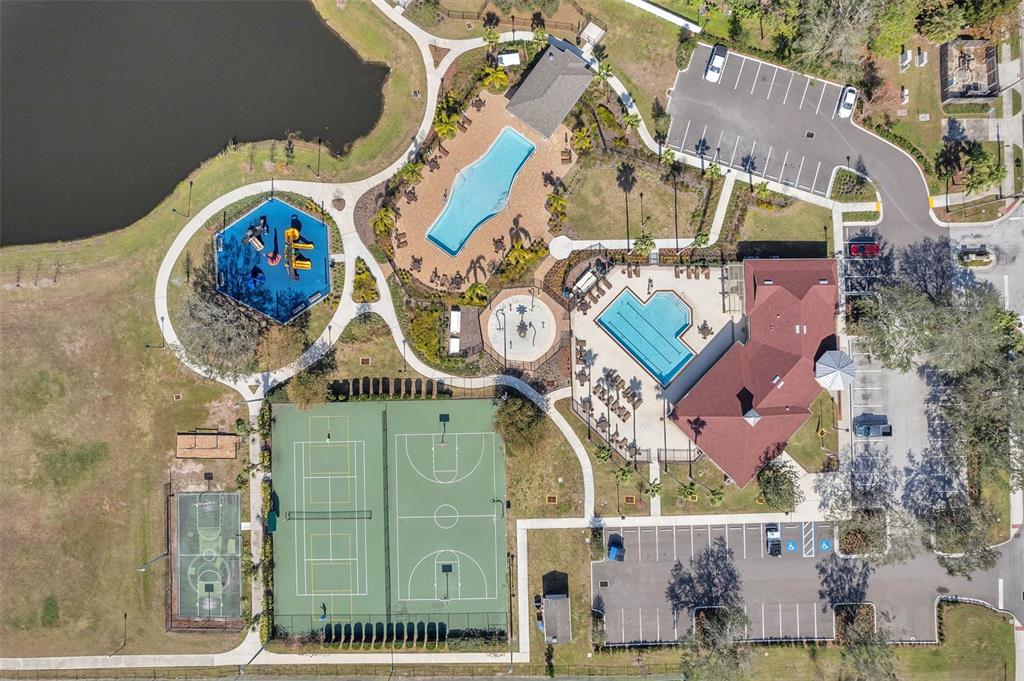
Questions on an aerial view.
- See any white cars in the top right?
Yes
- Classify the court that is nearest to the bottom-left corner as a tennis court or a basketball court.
basketball court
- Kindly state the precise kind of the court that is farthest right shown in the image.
basketball court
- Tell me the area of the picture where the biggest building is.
right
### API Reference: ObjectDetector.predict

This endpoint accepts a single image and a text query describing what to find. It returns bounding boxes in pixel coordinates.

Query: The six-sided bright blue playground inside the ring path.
[215,197,330,324]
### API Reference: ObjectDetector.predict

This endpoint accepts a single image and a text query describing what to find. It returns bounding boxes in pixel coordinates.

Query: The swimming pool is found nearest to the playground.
[425,126,538,257]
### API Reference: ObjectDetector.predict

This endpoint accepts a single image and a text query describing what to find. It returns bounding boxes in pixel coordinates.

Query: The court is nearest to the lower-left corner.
[178,493,241,616]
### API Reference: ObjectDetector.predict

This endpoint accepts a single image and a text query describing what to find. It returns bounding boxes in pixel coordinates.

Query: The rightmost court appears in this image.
[386,399,507,636]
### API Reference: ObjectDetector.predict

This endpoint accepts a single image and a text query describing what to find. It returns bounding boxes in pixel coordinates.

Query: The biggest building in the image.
[668,259,837,489]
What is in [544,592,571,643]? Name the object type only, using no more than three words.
shed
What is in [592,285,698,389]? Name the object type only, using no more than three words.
swimming pool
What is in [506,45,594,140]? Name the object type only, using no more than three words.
building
